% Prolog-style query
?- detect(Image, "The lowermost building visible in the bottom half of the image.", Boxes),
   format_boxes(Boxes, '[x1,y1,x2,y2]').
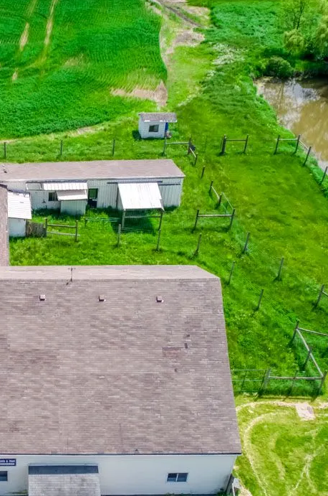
[0,266,244,496]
